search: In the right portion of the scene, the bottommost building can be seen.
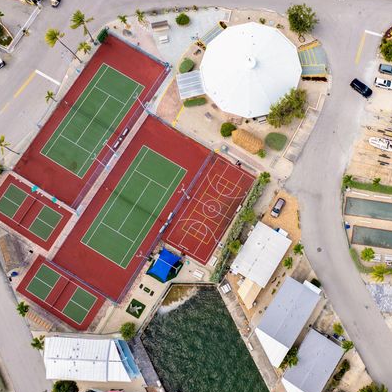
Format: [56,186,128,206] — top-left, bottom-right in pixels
[283,327,343,392]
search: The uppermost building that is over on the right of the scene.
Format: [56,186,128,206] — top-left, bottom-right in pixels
[200,23,303,119]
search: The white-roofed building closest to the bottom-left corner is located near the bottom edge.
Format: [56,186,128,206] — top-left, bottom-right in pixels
[43,336,143,383]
